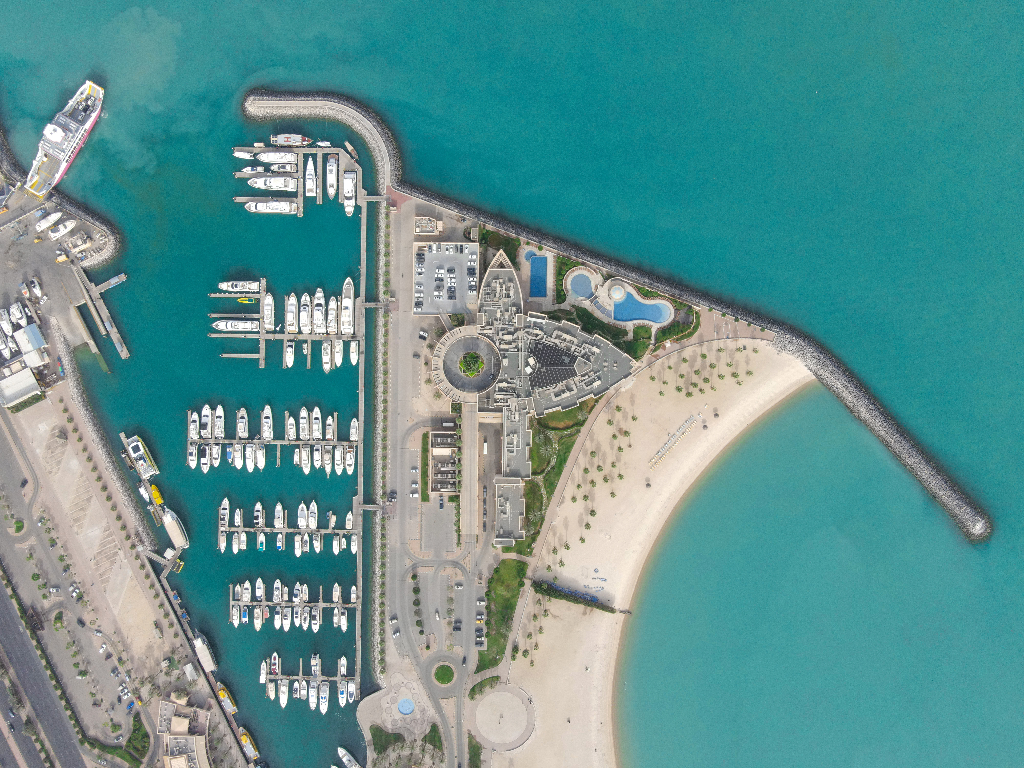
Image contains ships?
Yes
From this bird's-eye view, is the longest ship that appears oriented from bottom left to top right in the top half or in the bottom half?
top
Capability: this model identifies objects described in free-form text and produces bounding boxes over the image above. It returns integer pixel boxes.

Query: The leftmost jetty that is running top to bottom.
[91,273,130,359]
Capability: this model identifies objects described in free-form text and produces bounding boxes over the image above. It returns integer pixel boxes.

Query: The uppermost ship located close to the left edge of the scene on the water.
[21,78,105,200]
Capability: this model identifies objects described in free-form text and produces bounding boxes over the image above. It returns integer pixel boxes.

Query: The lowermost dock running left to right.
[267,657,355,698]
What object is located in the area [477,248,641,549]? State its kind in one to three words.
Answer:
building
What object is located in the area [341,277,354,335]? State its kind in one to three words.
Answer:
boat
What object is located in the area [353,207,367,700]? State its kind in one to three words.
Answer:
pier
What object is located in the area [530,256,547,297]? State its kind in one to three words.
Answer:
swimming pool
